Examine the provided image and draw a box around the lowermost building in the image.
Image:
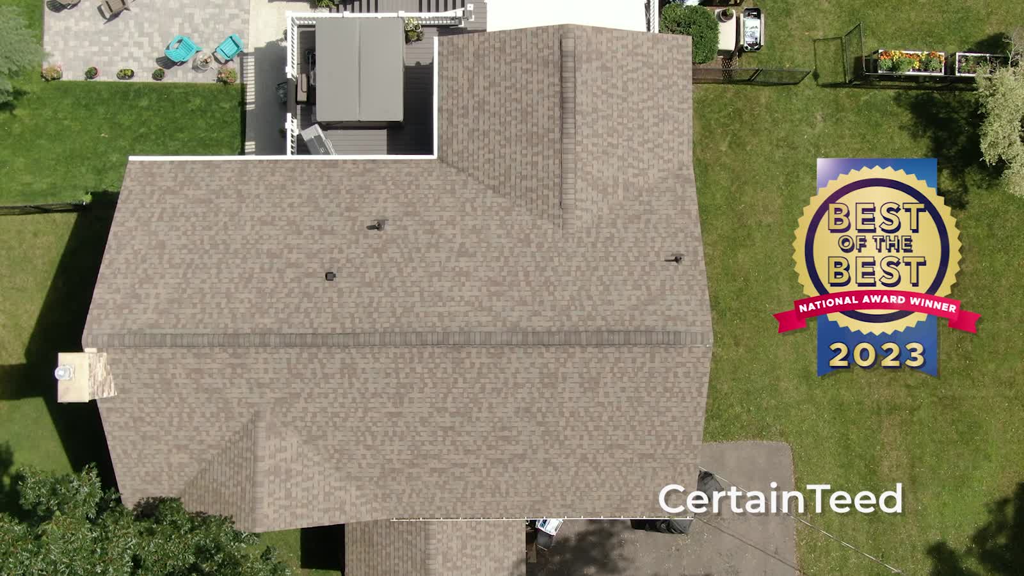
[57,25,713,576]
